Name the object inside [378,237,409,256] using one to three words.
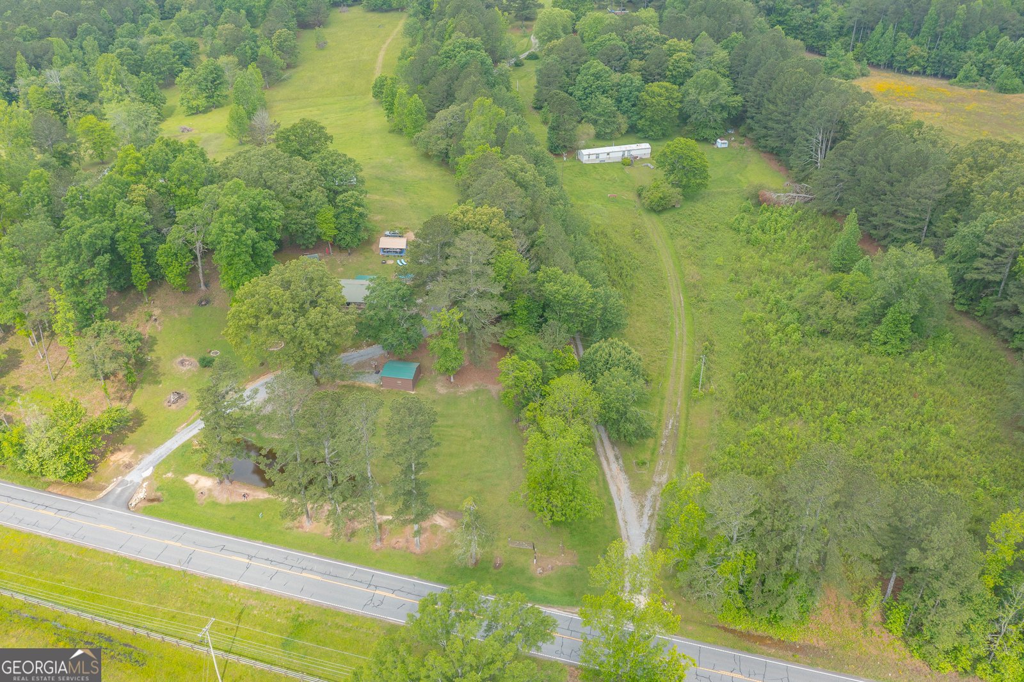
building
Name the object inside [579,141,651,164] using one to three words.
house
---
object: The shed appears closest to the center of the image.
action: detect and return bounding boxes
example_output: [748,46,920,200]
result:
[379,357,424,392]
